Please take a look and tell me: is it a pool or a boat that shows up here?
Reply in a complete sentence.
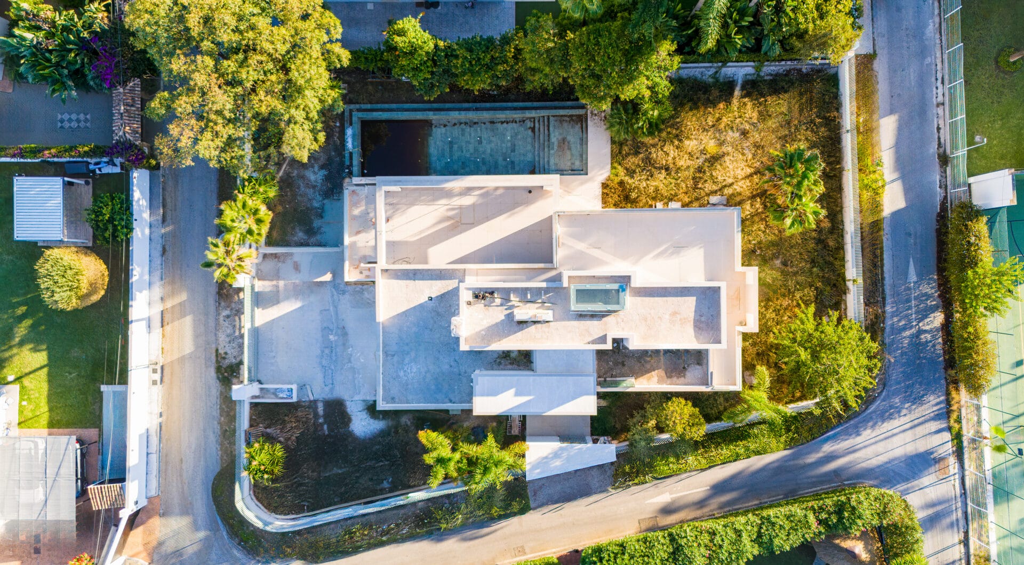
Looking from above, you can make out a pool.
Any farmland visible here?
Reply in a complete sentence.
No, no farmland is visible.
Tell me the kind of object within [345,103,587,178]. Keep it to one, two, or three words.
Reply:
swimming pool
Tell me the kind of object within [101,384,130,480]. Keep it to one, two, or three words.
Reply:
shed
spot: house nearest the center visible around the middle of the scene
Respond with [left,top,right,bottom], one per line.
[344,176,758,415]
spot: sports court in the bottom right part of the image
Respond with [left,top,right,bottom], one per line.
[988,262,1024,565]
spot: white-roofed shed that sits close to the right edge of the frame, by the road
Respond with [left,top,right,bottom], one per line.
[944,169,1024,211]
